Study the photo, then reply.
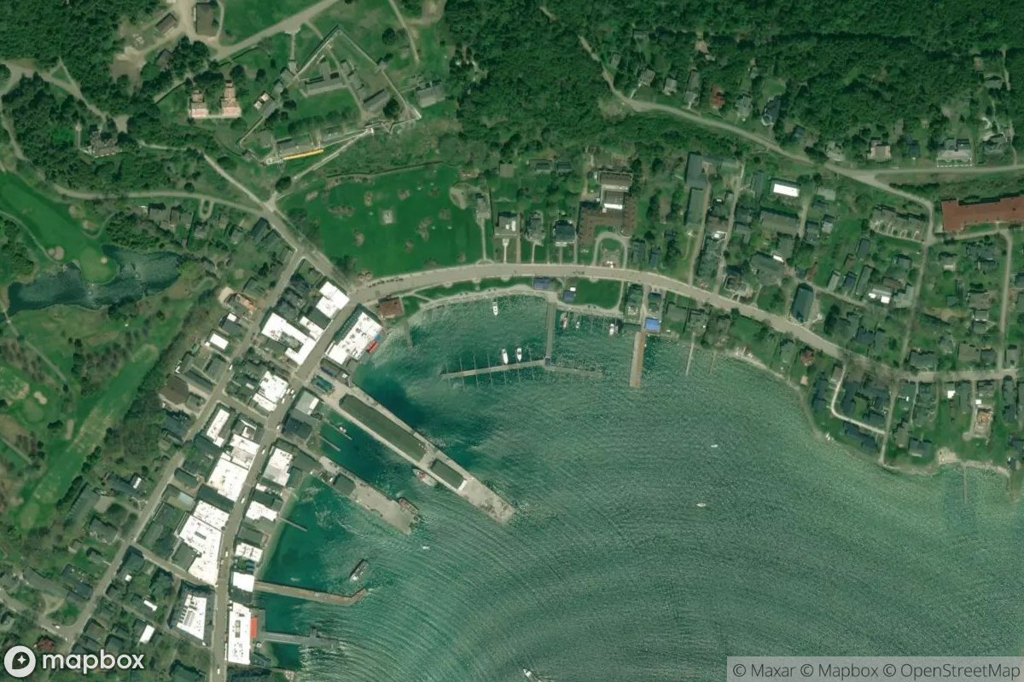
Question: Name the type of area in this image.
residential area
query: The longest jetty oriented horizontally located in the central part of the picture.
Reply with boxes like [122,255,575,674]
[441,358,546,378]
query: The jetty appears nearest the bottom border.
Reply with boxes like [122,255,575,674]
[262,629,339,647]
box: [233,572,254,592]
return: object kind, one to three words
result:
building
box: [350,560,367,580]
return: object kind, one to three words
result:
ship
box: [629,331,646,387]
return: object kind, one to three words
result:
pier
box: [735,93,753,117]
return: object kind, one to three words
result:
house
